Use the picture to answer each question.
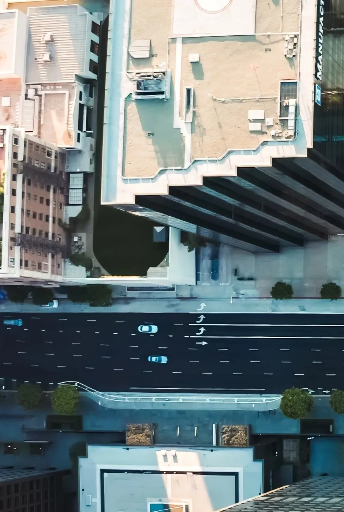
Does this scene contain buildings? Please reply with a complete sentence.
Yes, I can see a building in this picture.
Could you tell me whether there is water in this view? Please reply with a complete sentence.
No, no water is visible.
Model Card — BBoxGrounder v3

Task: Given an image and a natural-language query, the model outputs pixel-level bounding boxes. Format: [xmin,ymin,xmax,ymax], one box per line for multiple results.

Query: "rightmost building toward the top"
[100,0,344,257]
